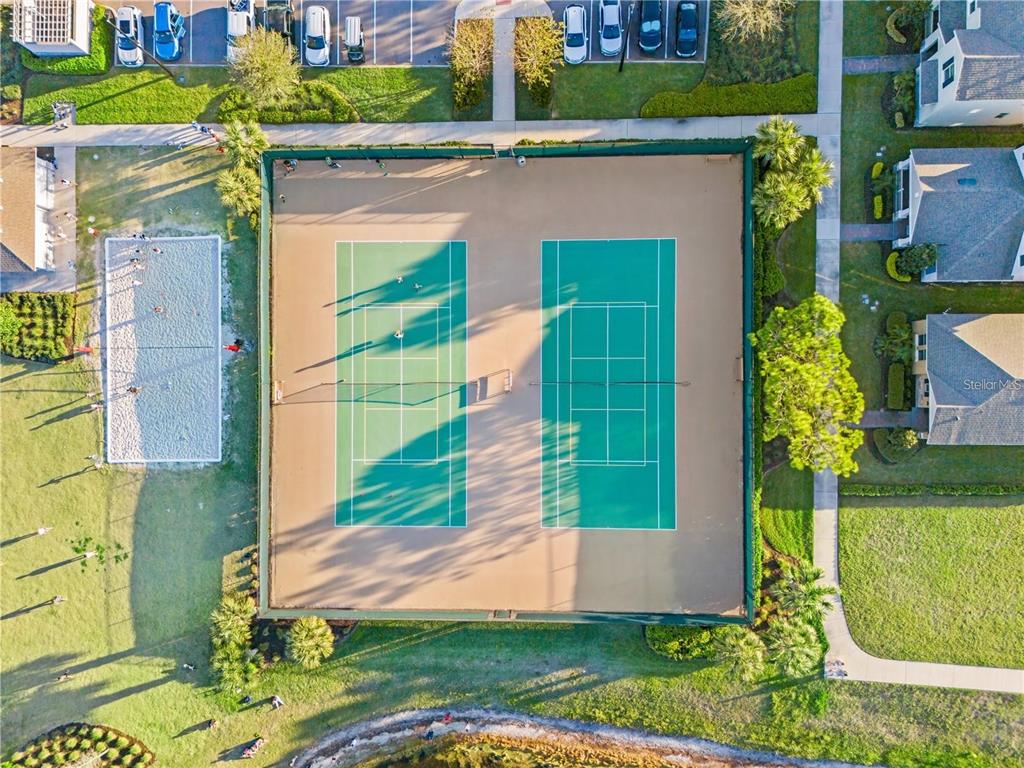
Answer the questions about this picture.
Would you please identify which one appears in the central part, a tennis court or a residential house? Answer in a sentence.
You can see a tennis court in the central part.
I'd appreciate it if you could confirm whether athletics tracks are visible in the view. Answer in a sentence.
No, I find no athletics track anywhere in the image.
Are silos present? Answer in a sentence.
No, I find no silo anywhere in the image.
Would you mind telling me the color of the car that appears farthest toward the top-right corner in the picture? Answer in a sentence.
From above, the car that appears farthest toward the top-right corner appears blue.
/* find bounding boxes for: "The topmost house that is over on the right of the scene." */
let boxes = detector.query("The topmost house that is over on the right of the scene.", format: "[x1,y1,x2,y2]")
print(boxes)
[915,0,1024,125]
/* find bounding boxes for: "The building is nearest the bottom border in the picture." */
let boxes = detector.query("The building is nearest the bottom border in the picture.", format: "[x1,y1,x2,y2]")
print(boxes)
[912,310,1024,445]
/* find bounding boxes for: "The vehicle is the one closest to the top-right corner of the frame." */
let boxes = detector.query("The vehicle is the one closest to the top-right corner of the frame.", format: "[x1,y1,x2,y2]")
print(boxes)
[673,0,702,59]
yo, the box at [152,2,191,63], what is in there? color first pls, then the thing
blue car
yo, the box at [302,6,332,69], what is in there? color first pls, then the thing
white car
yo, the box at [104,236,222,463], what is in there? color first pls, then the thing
white sports court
